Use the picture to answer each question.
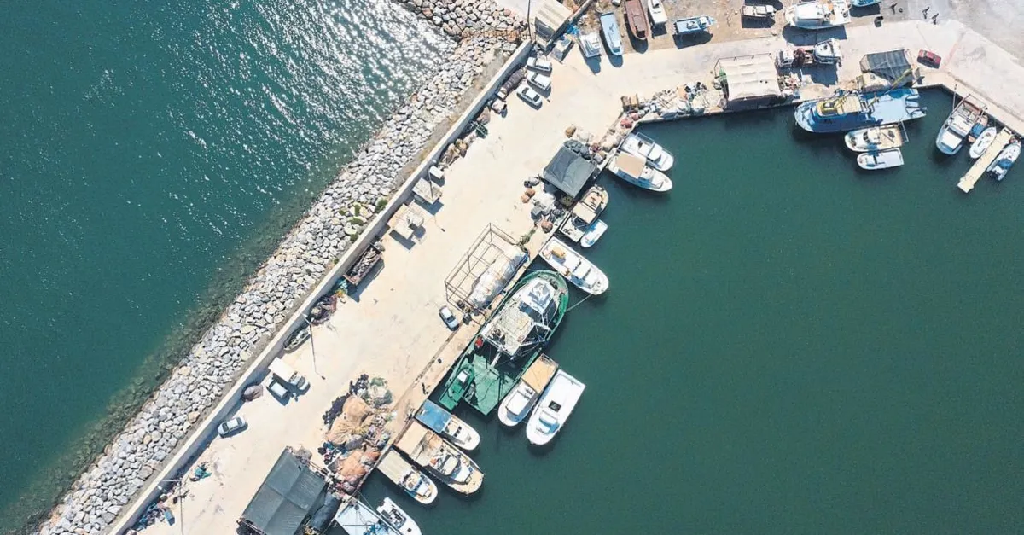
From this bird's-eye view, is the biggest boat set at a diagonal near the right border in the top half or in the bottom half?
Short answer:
top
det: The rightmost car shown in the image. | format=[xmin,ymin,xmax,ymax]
[919,50,944,68]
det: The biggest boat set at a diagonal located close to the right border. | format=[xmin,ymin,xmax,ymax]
[938,90,997,156]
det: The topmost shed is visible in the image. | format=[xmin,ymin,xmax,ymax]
[532,0,576,48]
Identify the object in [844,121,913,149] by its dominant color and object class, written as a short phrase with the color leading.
white boat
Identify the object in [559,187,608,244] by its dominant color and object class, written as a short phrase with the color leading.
white boat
